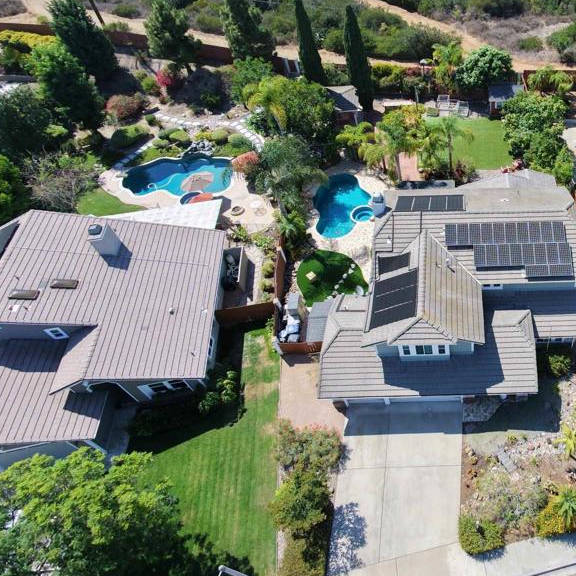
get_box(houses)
[318,169,576,410]
[0,208,228,469]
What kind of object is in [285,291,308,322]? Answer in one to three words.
shed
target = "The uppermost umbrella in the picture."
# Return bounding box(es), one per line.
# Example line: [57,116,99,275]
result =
[179,169,220,201]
